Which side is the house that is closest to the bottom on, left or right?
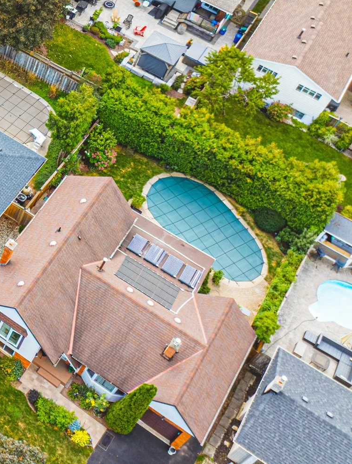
right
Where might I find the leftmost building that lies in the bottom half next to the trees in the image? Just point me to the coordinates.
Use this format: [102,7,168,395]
[0,175,257,453]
